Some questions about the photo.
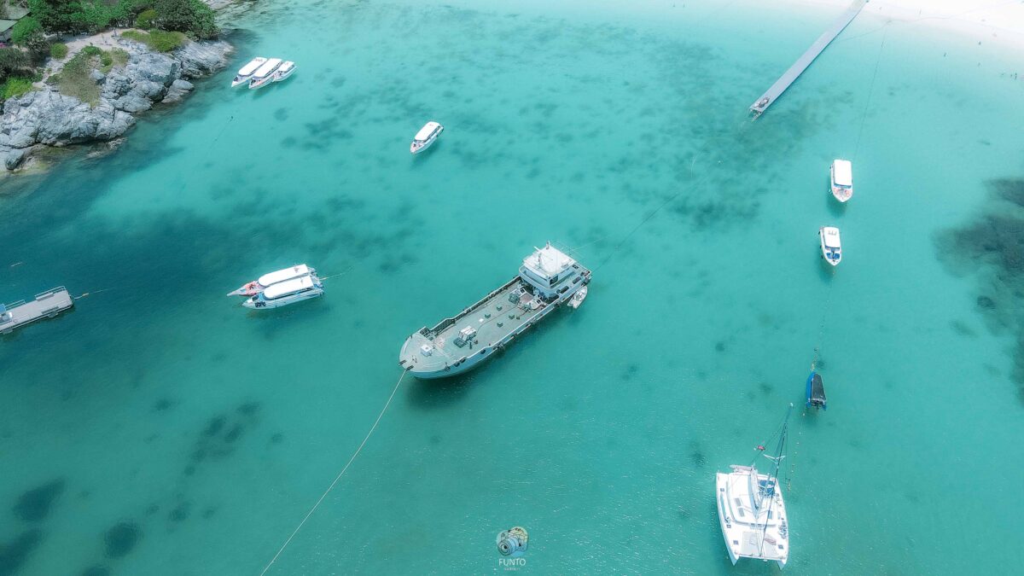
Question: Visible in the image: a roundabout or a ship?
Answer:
ship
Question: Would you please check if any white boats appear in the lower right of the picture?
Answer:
Yes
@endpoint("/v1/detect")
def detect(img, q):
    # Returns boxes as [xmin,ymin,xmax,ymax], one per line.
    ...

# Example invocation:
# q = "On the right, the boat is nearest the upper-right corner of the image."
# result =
[830,161,855,204]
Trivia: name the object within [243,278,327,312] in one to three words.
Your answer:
boat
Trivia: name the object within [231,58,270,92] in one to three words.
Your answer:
boat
